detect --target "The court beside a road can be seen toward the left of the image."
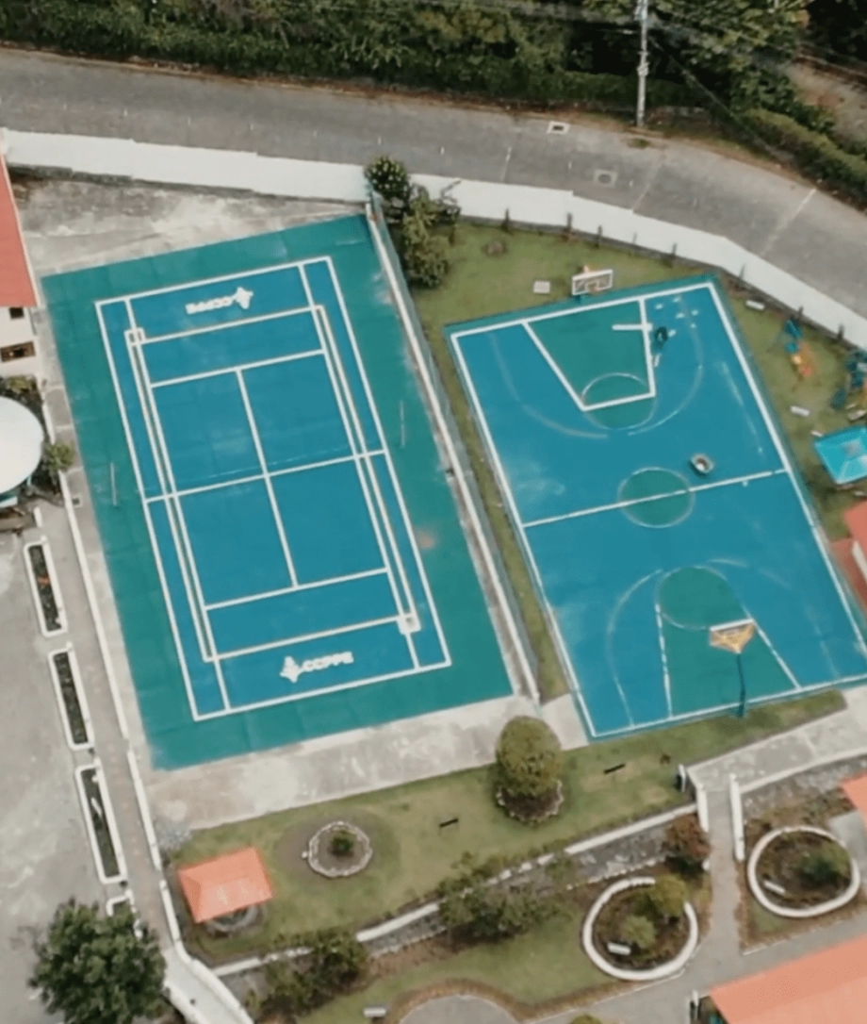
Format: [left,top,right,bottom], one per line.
[43,213,512,770]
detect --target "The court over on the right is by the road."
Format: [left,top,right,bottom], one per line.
[444,276,867,744]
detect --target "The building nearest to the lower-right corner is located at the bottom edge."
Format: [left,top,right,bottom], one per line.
[707,931,867,1024]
